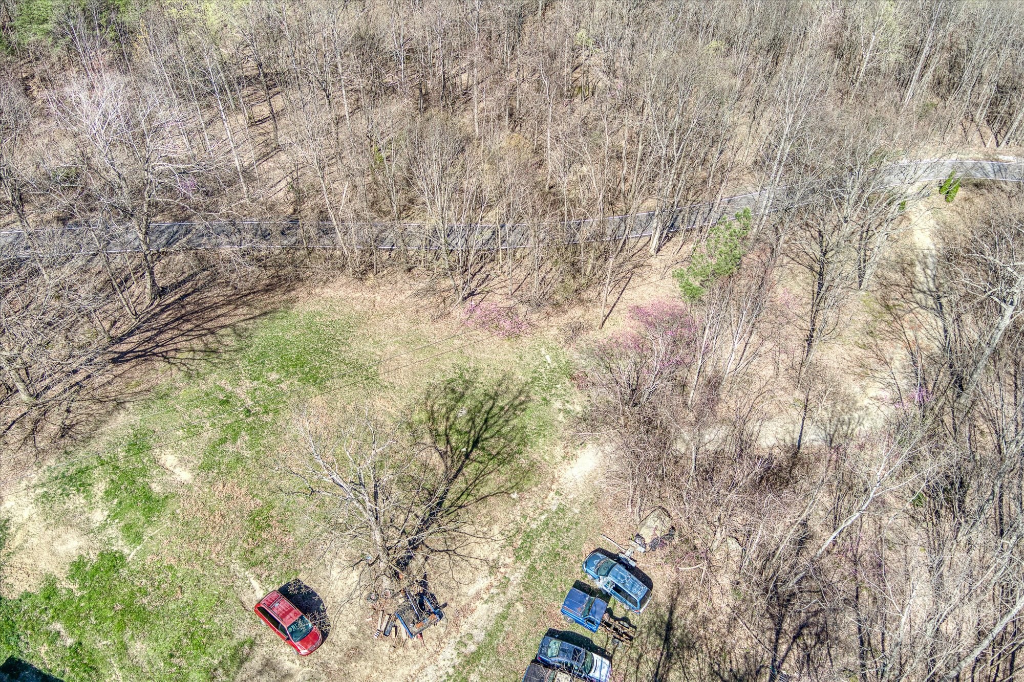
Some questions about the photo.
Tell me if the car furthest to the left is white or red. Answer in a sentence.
In this view, the car furthest to the left is red.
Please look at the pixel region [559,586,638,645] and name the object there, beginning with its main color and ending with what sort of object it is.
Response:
blue truck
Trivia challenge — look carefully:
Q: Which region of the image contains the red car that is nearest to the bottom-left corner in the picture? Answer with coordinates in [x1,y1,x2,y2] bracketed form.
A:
[252,591,323,658]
